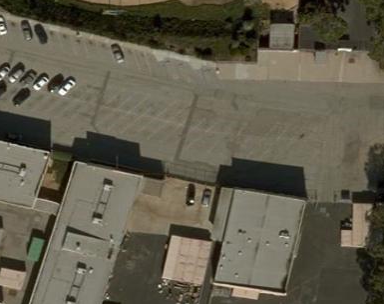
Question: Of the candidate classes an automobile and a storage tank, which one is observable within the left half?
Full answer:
There is an automobile within the left half.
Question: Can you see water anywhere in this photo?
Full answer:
No, no water is visible.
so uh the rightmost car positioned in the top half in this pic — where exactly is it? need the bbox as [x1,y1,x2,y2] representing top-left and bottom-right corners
[110,43,125,63]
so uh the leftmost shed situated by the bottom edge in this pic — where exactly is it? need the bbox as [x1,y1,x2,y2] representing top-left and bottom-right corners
[0,268,27,289]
